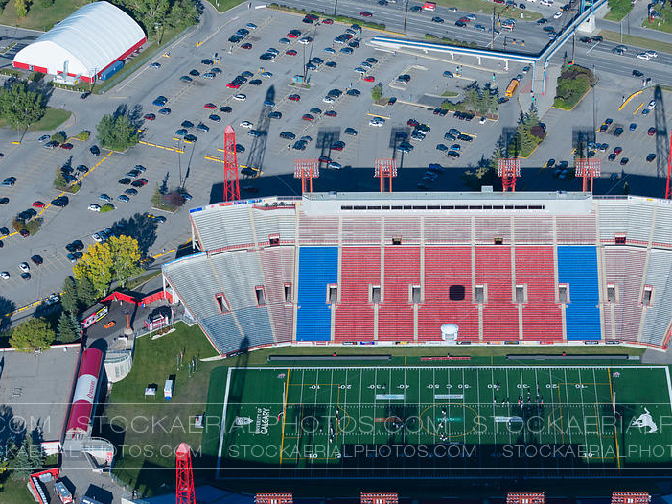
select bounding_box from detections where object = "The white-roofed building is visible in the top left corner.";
[13,0,146,82]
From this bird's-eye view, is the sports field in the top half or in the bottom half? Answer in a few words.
bottom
